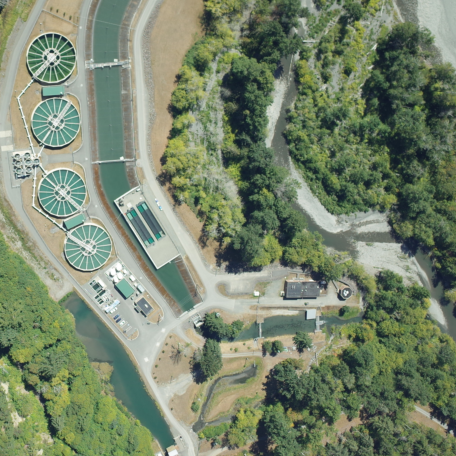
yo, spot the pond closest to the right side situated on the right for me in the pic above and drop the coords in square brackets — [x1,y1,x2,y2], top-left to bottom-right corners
[195,312,362,341]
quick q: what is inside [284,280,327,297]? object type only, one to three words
building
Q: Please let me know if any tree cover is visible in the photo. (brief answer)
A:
Yes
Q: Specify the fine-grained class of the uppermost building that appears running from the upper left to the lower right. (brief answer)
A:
house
